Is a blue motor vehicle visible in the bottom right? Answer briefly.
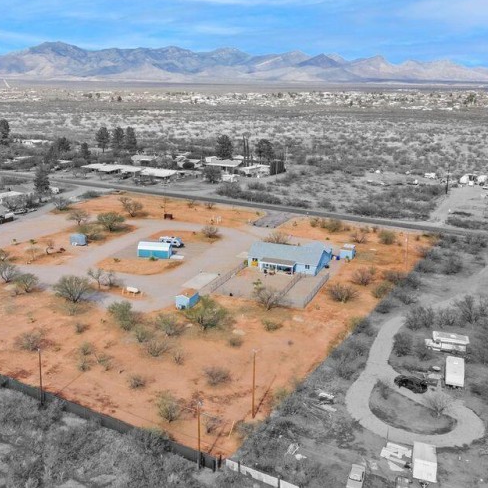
No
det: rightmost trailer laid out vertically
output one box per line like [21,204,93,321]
[444,356,464,402]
